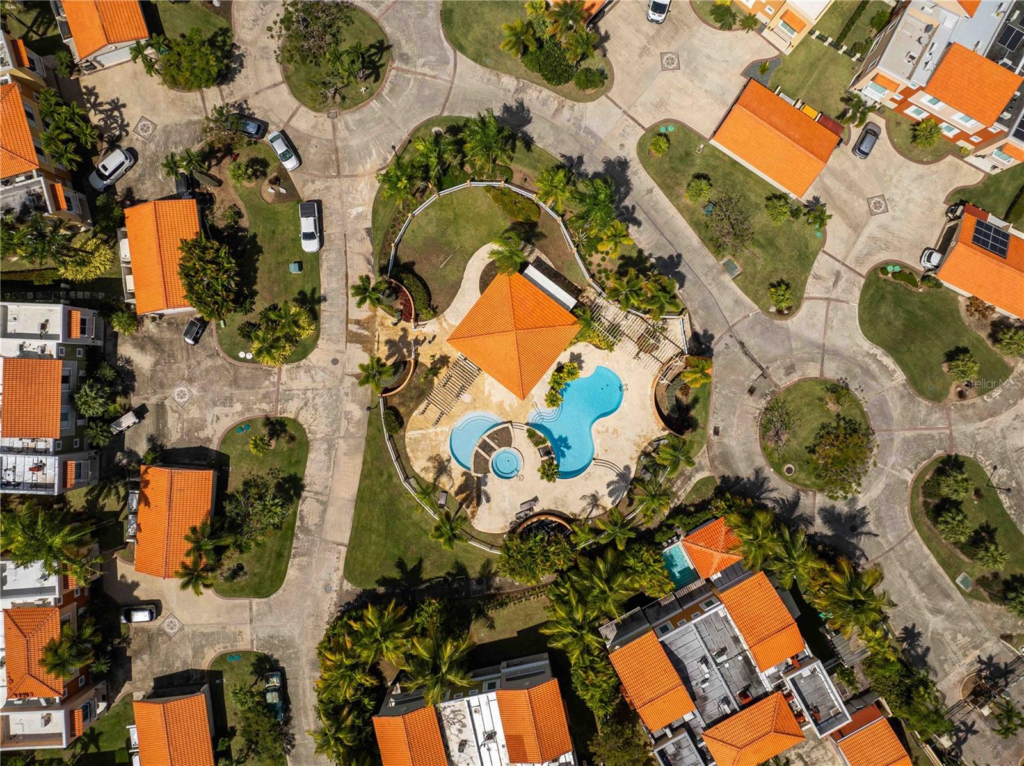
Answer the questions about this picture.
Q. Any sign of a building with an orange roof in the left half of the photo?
Yes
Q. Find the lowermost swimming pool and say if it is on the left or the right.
right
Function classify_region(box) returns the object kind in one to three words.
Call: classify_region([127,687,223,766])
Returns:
building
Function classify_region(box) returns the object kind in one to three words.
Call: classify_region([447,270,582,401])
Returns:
building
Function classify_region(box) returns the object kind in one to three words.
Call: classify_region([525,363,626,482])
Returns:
swimming pool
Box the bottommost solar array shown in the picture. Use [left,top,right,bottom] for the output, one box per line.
[973,220,1011,257]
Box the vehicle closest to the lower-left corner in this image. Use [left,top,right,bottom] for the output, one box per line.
[119,603,161,625]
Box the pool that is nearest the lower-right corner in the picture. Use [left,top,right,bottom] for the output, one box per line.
[660,542,699,590]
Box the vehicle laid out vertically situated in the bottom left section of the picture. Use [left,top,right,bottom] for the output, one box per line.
[263,670,285,720]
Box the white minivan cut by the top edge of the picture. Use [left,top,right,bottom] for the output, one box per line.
[648,0,670,29]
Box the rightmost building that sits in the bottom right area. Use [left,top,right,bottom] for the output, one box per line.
[952,666,1011,716]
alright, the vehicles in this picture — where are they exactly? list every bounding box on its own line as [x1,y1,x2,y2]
[180,321,203,343]
[648,0,670,29]
[917,248,944,268]
[196,187,216,211]
[174,170,197,200]
[299,202,321,253]
[92,150,135,191]
[268,131,300,173]
[850,119,880,163]
[71,58,99,78]
[230,115,271,140]
[263,670,285,720]
[109,410,144,433]
[119,603,161,625]
[941,203,966,221]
